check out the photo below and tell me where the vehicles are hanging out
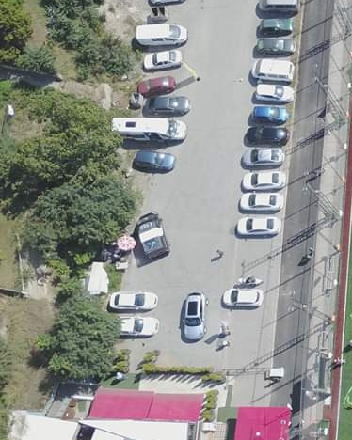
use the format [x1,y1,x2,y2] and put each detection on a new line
[251,60,295,82]
[143,95,190,117]
[255,36,296,56]
[238,191,284,213]
[137,75,175,97]
[137,213,169,259]
[105,116,190,143]
[244,124,289,145]
[257,18,292,37]
[179,294,205,341]
[143,51,182,71]
[131,152,175,172]
[235,215,281,237]
[258,0,299,13]
[149,0,187,7]
[131,24,188,48]
[221,287,264,308]
[240,170,286,191]
[250,106,289,125]
[254,85,295,103]
[111,318,160,339]
[108,291,158,312]
[241,147,284,167]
